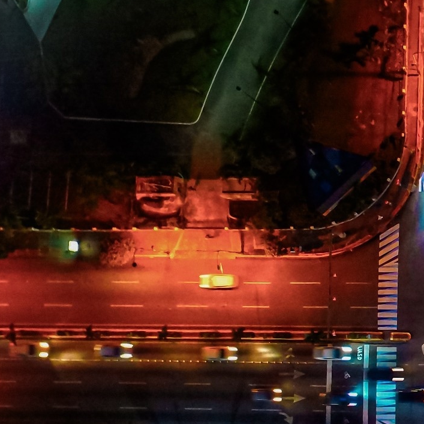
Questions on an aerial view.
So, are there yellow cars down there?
Yes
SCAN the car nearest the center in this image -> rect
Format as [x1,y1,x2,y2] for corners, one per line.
[199,272,238,290]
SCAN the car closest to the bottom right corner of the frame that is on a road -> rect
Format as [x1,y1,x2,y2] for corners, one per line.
[397,388,424,402]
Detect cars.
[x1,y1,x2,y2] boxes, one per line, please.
[199,272,238,290]
[397,388,424,402]
[315,346,353,362]
[324,391,361,405]
[368,367,405,381]
[204,346,240,361]
[251,388,285,403]
[97,343,135,358]
[16,342,52,357]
